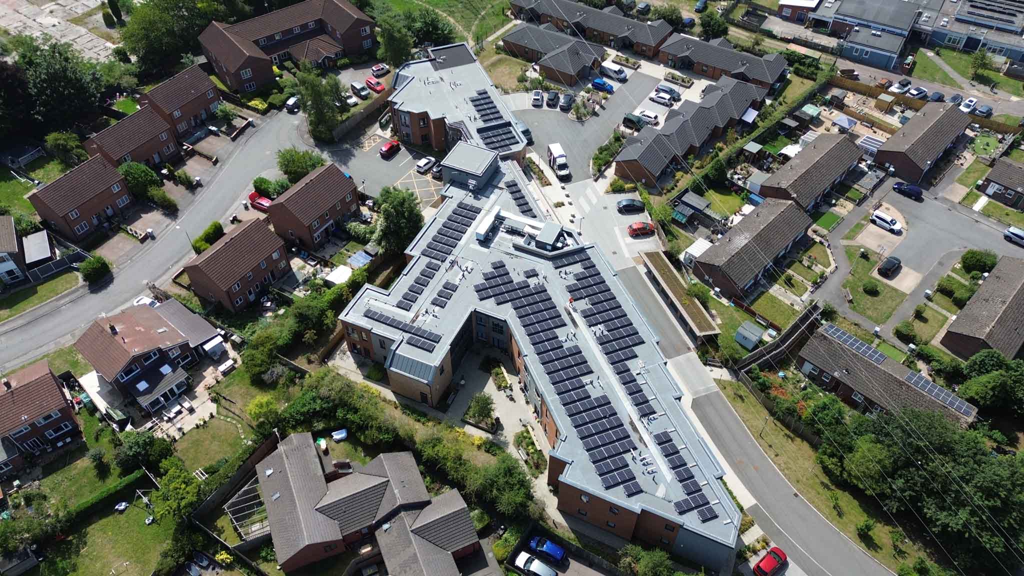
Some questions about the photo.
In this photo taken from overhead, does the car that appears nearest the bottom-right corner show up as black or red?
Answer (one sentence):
The car that appears nearest the bottom-right corner looks red in the image.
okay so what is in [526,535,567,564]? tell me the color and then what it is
blue car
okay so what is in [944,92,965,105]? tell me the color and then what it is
gray vehicle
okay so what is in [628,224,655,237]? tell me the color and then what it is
red vehicle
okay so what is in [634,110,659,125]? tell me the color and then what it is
white car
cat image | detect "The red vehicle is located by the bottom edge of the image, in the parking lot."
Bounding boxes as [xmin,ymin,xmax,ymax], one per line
[750,546,789,576]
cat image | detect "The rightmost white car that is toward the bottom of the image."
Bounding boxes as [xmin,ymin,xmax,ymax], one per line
[516,552,557,576]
